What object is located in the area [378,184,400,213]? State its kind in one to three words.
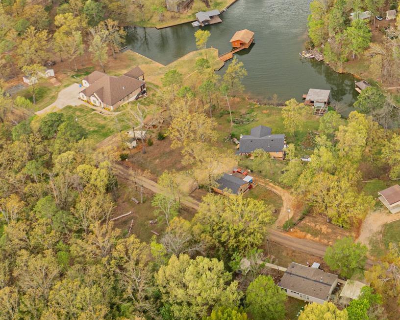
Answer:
building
